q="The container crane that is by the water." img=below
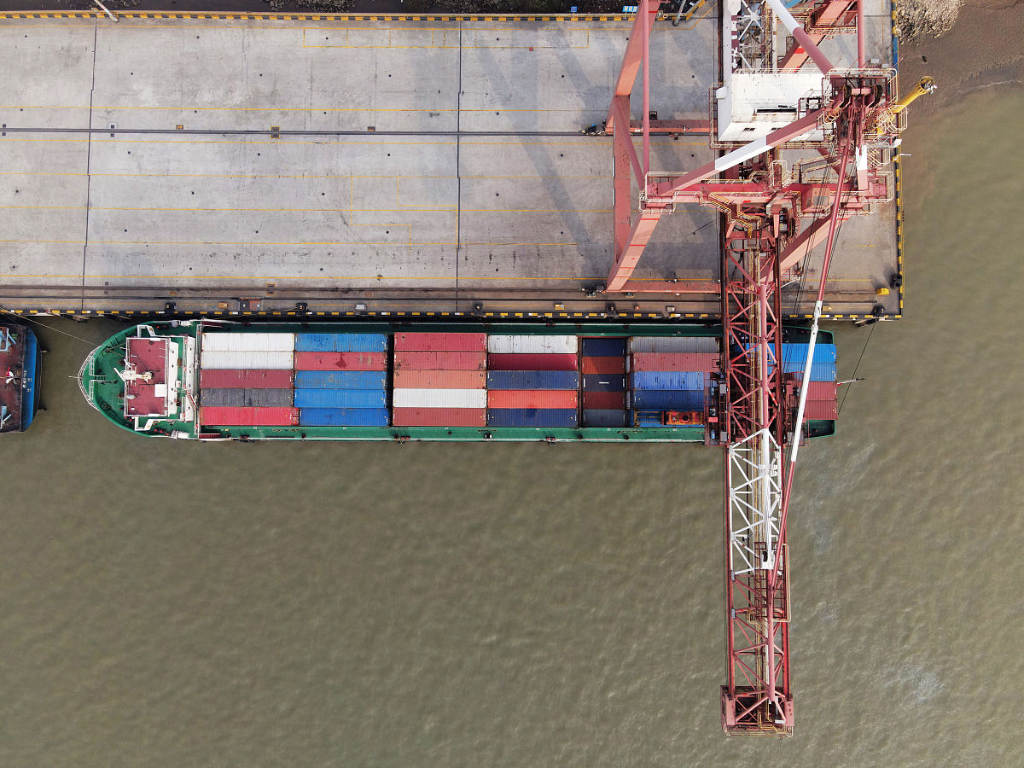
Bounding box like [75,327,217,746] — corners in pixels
[578,0,931,733]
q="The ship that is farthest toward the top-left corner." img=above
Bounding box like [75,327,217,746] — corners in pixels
[0,322,58,434]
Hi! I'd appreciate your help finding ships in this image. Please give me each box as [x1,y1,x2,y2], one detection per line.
[67,322,871,442]
[0,322,58,434]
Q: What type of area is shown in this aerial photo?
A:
port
